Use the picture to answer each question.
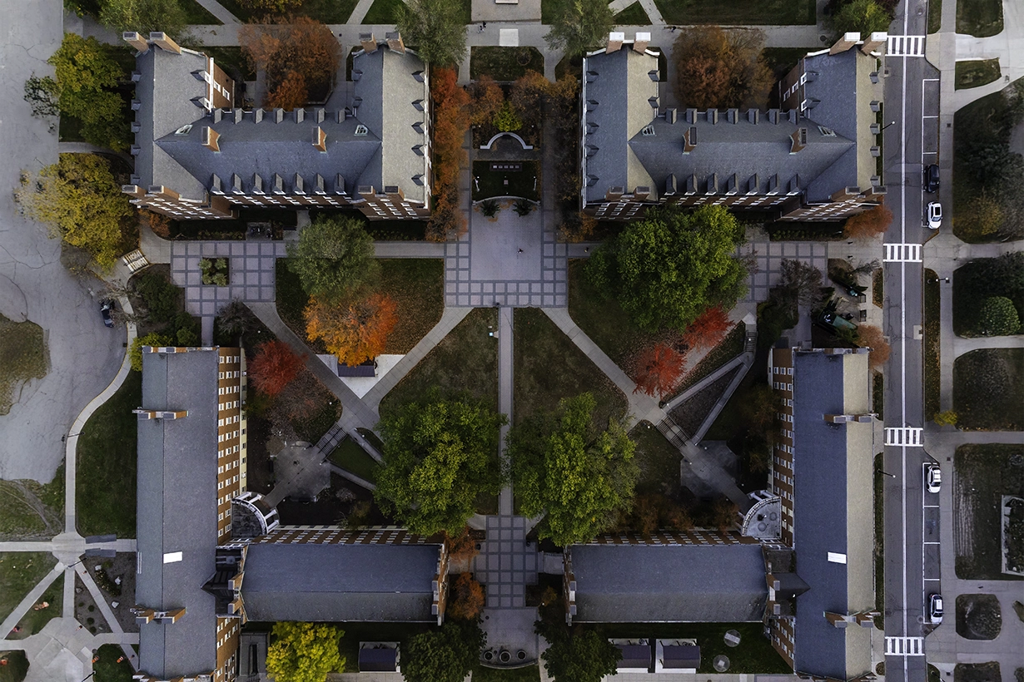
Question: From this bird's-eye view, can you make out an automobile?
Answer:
Yes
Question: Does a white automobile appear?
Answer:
Yes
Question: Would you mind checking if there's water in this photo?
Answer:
No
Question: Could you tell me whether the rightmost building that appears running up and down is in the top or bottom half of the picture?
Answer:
bottom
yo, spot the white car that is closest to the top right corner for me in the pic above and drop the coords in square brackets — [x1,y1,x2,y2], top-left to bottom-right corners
[926,200,943,229]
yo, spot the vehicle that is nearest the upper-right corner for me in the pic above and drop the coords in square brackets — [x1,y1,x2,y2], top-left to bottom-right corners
[925,162,941,192]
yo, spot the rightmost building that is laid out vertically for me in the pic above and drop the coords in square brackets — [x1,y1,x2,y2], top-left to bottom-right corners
[728,349,875,682]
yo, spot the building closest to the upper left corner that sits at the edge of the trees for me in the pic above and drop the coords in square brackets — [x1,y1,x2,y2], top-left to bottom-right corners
[123,29,432,214]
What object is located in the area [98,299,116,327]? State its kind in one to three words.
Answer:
car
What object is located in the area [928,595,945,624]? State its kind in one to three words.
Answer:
car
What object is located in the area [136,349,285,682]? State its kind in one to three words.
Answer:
building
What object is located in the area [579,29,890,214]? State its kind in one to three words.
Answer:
building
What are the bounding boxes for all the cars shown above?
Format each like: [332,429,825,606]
[98,299,116,327]
[926,200,943,229]
[925,463,942,493]
[928,595,945,624]
[925,162,941,192]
